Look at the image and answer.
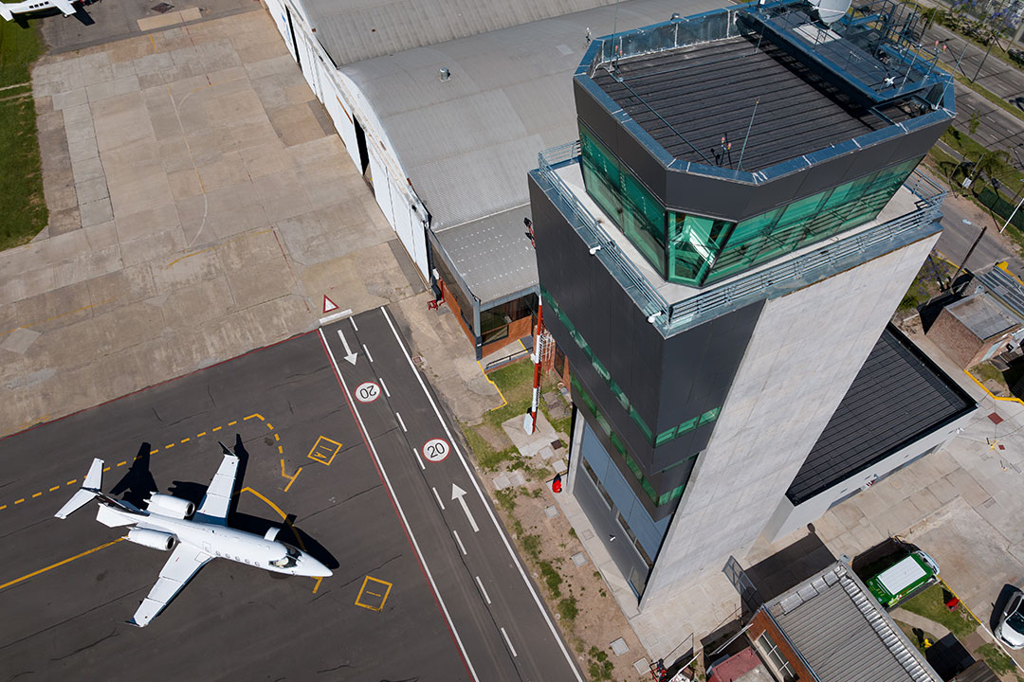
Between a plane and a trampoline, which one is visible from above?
plane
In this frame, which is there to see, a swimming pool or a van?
van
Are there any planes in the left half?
Yes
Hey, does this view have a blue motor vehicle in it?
No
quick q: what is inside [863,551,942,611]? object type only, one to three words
van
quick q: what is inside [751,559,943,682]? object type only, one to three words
building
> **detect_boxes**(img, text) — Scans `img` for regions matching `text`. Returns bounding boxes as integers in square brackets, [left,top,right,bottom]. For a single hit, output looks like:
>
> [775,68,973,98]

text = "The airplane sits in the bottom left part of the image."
[57,444,333,626]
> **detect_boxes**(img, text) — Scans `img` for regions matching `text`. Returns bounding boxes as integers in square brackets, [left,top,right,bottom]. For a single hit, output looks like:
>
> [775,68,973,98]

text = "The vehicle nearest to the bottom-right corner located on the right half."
[996,585,1024,645]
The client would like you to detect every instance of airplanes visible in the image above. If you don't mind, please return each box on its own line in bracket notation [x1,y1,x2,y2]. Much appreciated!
[0,0,105,22]
[57,444,333,626]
